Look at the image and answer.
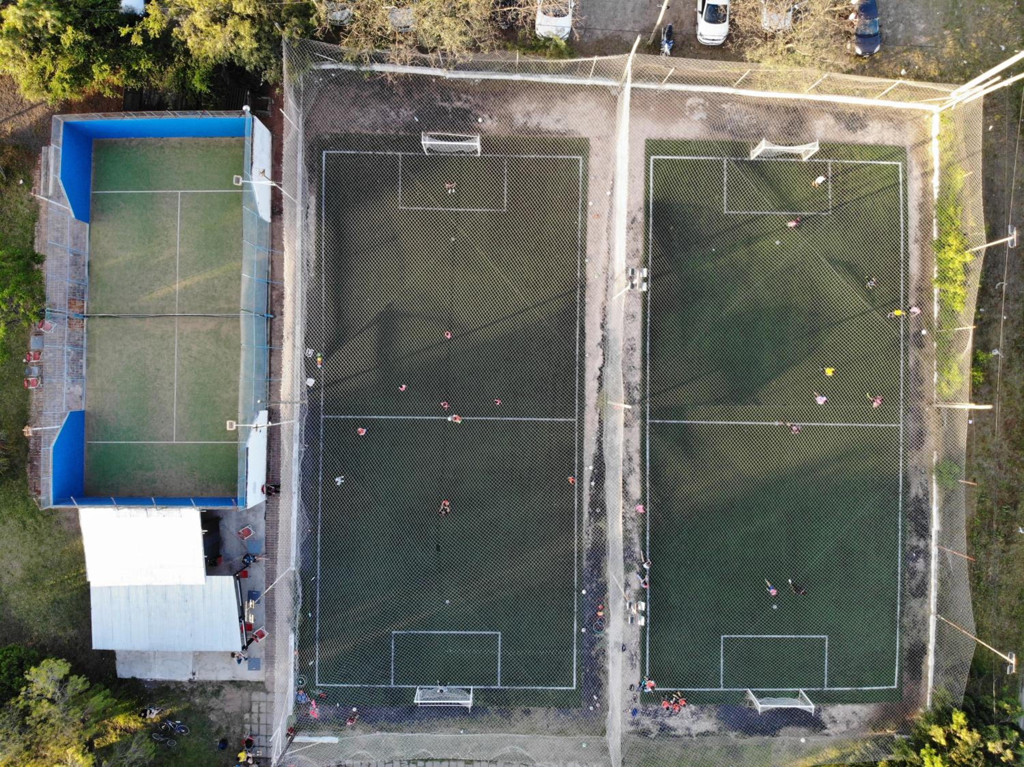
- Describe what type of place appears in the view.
sports ground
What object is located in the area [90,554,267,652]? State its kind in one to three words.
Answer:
building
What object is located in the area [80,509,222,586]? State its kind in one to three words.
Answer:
building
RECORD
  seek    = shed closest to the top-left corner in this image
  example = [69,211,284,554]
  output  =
[123,73,262,120]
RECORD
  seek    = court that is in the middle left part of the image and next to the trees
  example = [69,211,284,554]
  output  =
[35,107,274,512]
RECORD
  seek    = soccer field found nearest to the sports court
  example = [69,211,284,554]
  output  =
[296,134,589,708]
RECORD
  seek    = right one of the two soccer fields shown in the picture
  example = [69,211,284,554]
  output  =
[640,139,907,705]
